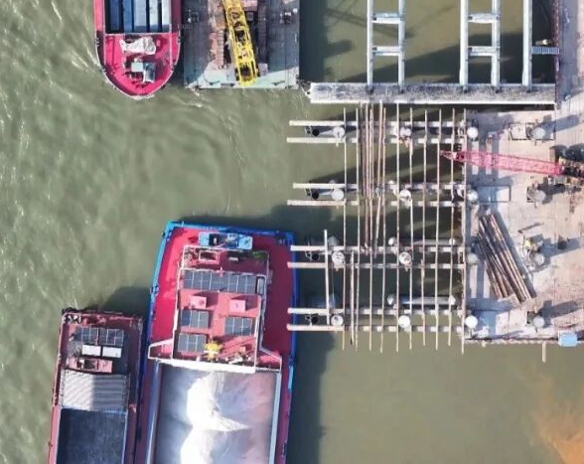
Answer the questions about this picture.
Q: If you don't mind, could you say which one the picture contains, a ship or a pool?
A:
ship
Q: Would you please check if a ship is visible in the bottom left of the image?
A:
Yes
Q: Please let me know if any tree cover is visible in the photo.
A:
No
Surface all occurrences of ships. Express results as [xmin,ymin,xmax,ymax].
[140,221,295,464]
[46,306,144,464]
[94,0,183,96]
[184,0,299,90]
